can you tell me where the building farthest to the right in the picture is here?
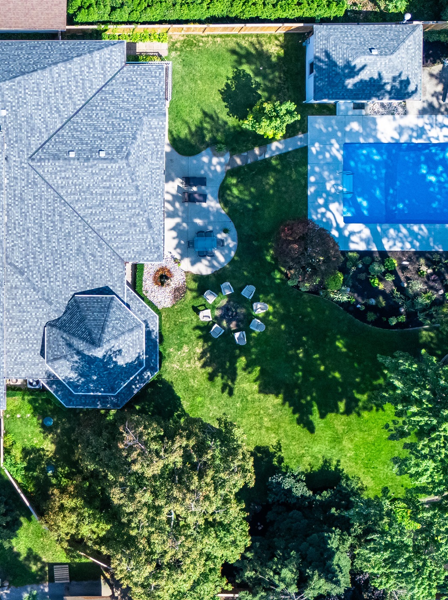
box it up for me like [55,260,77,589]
[299,23,423,105]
